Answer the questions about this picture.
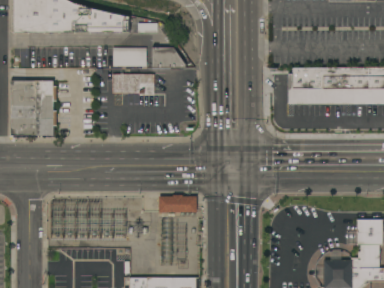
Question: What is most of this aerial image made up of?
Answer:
paved ground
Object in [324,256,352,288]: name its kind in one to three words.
building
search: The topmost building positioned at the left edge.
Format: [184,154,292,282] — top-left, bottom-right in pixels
[12,0,124,32]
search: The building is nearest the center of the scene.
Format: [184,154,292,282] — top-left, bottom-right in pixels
[160,194,198,216]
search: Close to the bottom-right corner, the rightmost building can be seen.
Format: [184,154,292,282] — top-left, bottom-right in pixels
[352,220,384,288]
